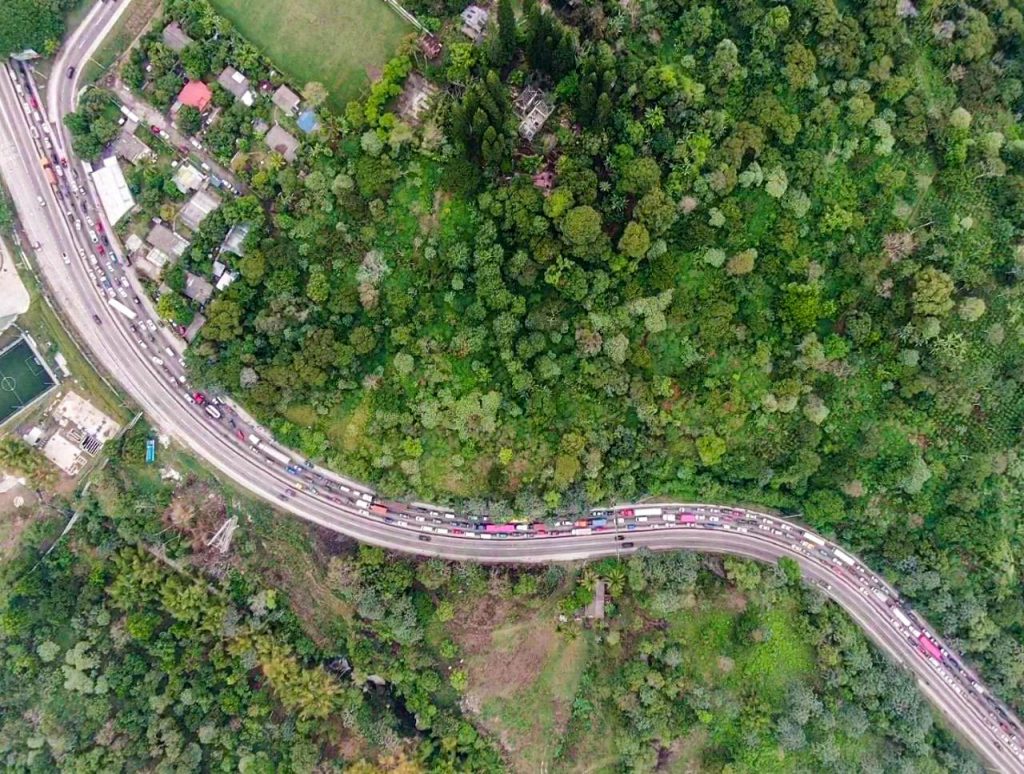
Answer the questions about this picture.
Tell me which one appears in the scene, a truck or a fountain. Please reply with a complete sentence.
Of the two, only a truck appears.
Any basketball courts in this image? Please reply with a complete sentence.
No, I find no basketball court anywhere in the image.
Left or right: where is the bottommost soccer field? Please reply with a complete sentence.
It is on the left.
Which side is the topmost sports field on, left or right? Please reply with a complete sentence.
The topmost sports field is on the left side of the image.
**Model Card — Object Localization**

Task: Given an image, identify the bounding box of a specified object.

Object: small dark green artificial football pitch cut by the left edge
[0,339,57,425]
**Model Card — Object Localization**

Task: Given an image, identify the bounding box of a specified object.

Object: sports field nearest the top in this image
[214,0,416,114]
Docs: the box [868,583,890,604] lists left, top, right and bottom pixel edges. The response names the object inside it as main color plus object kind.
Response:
white truck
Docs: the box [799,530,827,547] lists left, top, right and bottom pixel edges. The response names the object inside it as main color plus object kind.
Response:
white vehicle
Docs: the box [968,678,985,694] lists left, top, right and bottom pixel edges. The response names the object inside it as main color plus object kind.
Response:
white vehicle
